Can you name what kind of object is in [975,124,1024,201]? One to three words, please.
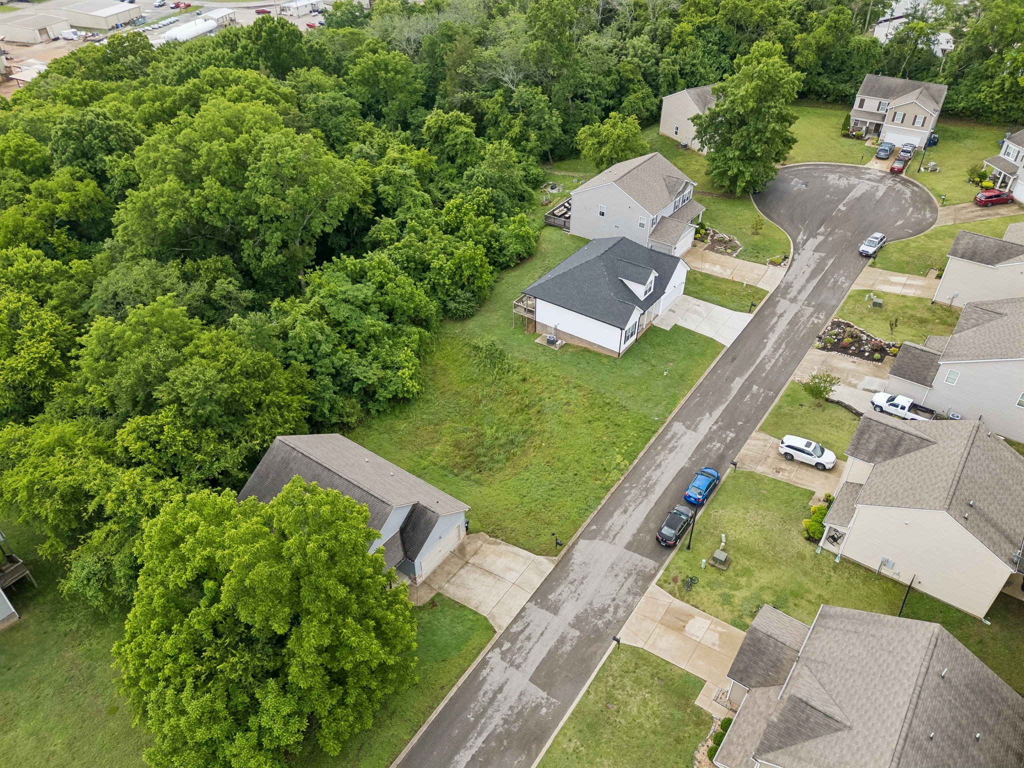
house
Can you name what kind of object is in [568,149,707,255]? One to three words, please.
house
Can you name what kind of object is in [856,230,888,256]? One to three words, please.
car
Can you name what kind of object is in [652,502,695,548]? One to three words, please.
car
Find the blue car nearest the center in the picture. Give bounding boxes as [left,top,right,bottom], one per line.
[681,464,722,505]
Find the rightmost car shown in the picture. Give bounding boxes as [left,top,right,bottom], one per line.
[975,188,1018,206]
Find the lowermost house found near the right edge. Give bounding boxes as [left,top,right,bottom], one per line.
[711,602,1024,768]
